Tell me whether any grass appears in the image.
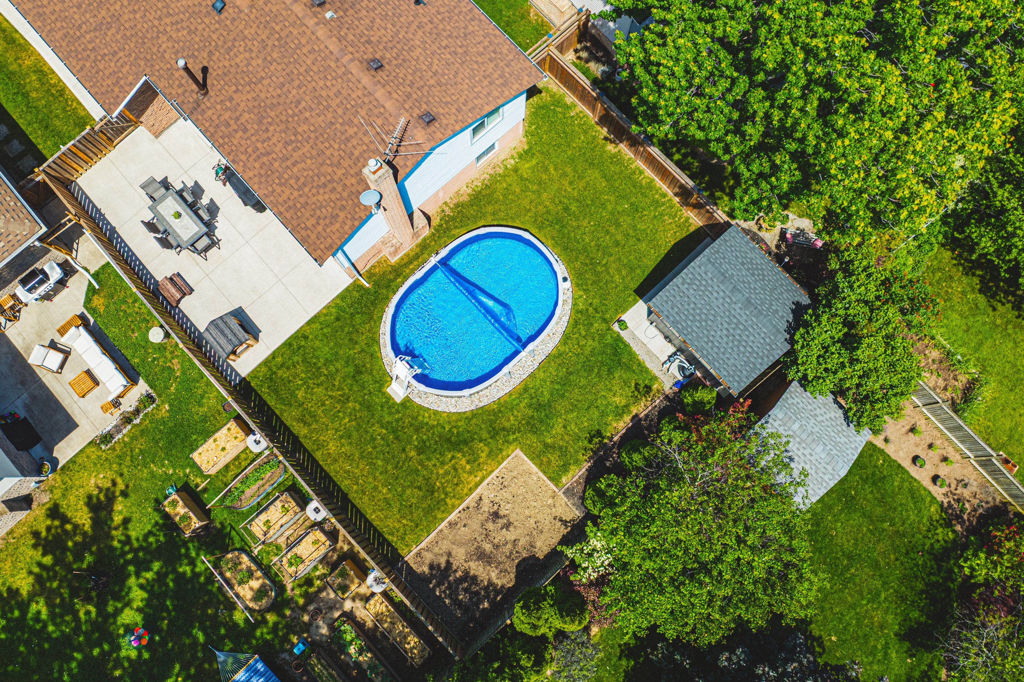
Yes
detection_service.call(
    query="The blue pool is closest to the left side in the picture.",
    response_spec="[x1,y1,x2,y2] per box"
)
[384,225,570,397]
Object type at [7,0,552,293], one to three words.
house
